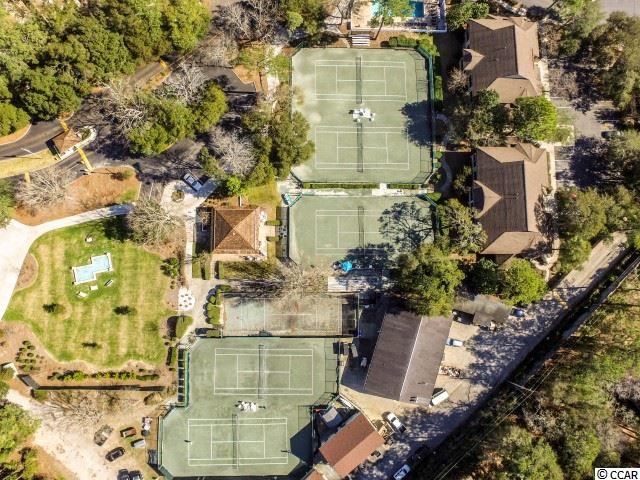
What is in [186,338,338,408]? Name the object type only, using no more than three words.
tennis court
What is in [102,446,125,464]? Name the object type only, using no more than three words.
car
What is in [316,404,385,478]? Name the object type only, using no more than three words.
shed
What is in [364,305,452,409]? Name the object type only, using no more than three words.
barn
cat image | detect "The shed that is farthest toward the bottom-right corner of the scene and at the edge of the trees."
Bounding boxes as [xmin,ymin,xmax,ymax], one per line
[471,298,511,328]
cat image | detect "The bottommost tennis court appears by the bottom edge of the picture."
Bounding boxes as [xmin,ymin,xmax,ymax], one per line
[161,408,312,476]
